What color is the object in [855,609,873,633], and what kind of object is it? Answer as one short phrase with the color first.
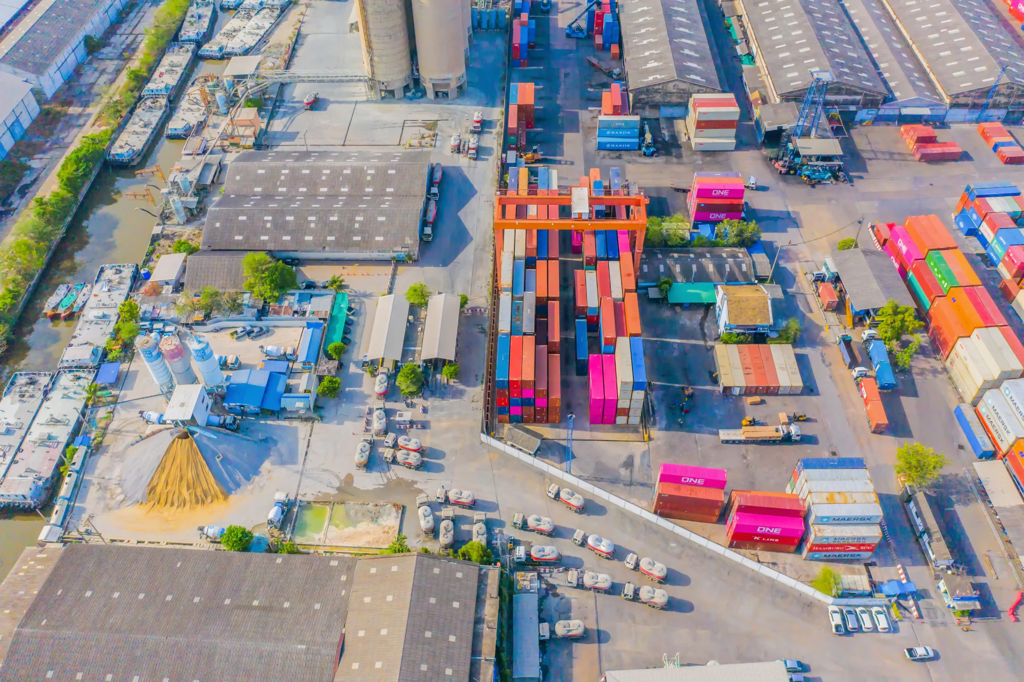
white car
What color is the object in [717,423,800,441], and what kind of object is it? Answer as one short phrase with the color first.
white vehicle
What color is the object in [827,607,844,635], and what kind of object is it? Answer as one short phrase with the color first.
white vehicle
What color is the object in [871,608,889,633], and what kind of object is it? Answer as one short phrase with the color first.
white car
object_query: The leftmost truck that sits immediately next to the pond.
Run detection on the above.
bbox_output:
[265,494,292,537]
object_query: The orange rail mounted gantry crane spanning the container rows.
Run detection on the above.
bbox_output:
[493,182,650,303]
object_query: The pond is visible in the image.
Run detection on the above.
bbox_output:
[289,498,404,550]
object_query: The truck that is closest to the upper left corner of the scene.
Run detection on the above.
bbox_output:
[303,92,324,113]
